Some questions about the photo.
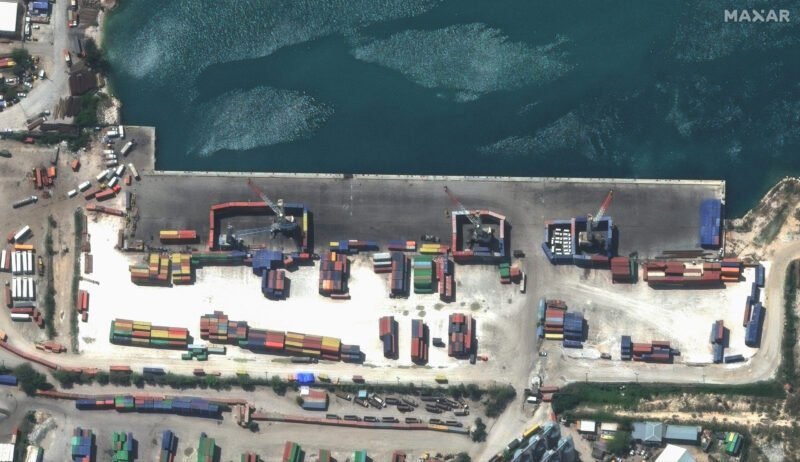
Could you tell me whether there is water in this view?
Yes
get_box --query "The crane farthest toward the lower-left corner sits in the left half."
[218,224,274,252]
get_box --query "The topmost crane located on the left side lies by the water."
[247,178,295,232]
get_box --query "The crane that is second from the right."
[443,185,495,242]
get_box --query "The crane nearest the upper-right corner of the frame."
[577,188,613,245]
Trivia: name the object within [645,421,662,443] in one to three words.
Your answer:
building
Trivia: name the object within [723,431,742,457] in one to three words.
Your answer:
house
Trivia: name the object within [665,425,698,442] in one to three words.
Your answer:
building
